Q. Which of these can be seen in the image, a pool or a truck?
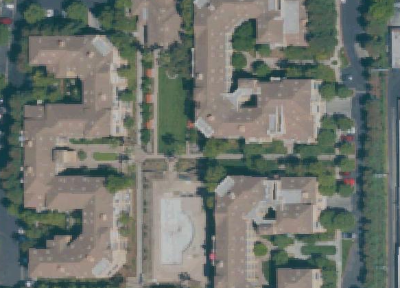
pool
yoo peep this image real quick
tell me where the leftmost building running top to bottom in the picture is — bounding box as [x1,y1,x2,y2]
[24,36,130,278]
